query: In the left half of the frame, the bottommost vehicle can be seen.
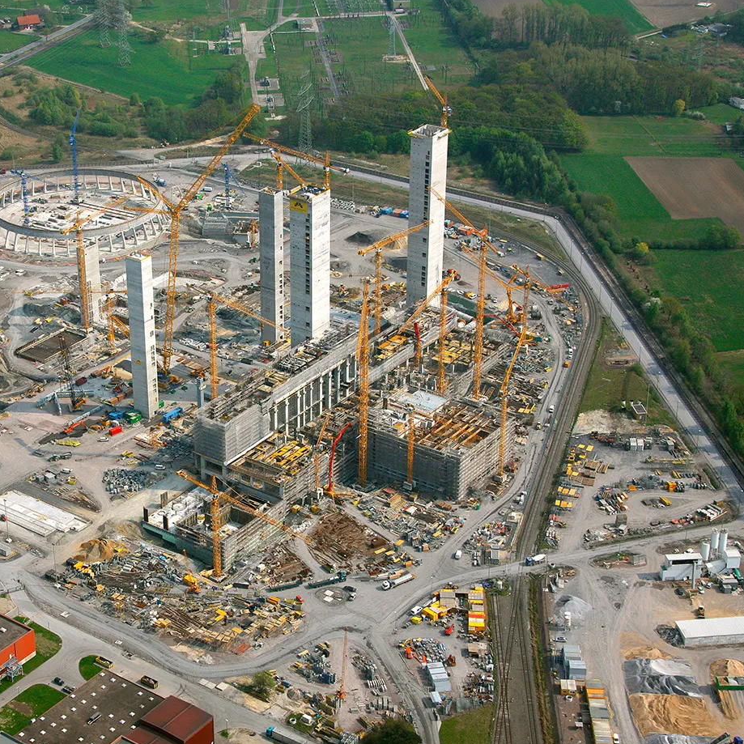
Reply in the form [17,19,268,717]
[263,720,309,744]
